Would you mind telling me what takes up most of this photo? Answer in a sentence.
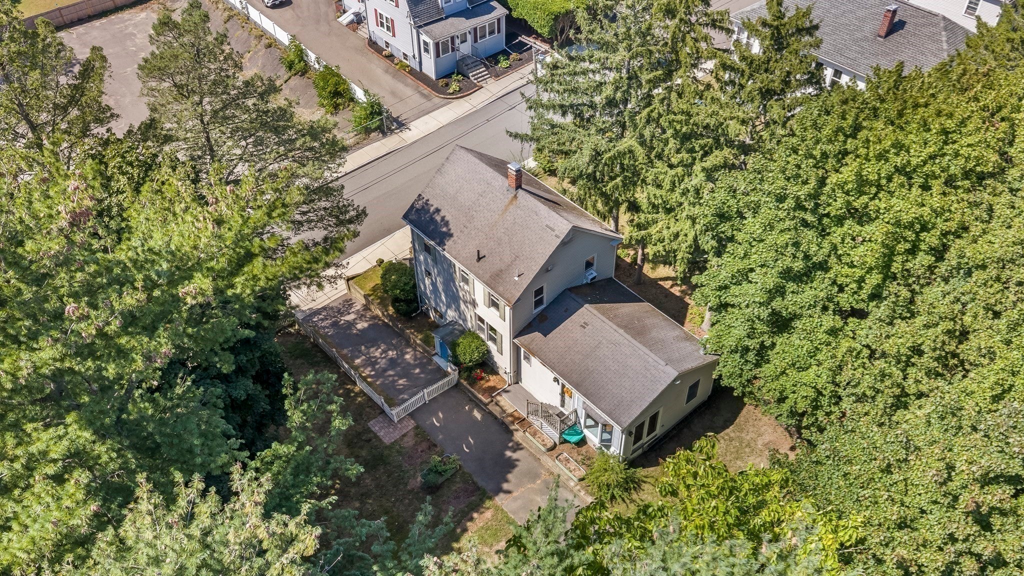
The scene is dominated by trees.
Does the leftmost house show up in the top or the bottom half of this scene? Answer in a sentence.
Seen from above, the leftmost house lies in the top half of the view.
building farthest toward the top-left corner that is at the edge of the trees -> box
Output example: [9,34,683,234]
[335,0,513,78]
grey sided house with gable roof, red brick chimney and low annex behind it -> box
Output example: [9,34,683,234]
[401,146,717,466]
